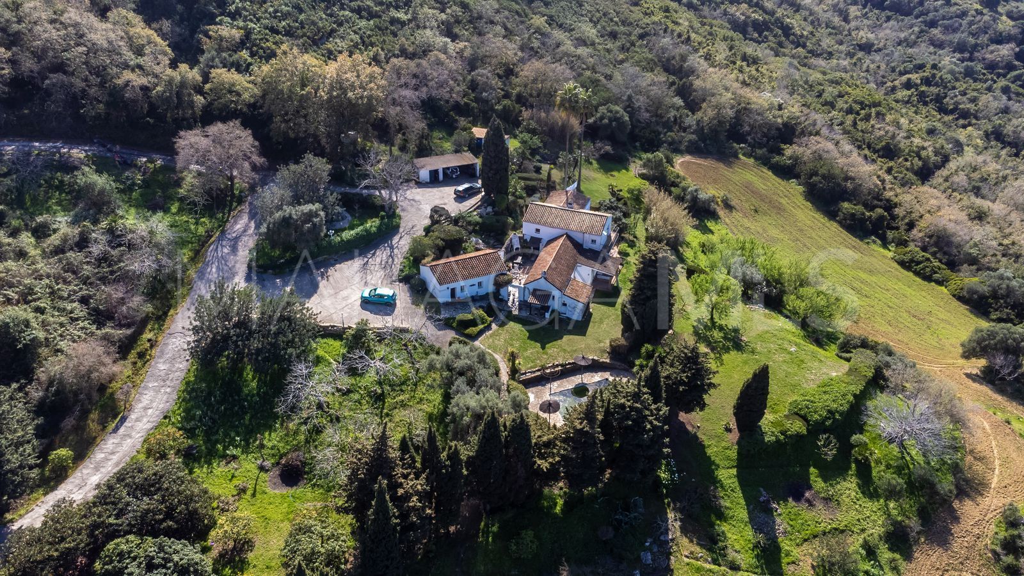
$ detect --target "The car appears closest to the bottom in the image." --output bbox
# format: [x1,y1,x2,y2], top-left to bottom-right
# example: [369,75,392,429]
[360,284,397,302]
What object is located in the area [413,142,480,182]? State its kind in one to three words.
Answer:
building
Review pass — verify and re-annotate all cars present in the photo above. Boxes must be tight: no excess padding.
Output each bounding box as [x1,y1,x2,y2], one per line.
[360,284,397,302]
[452,180,483,195]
